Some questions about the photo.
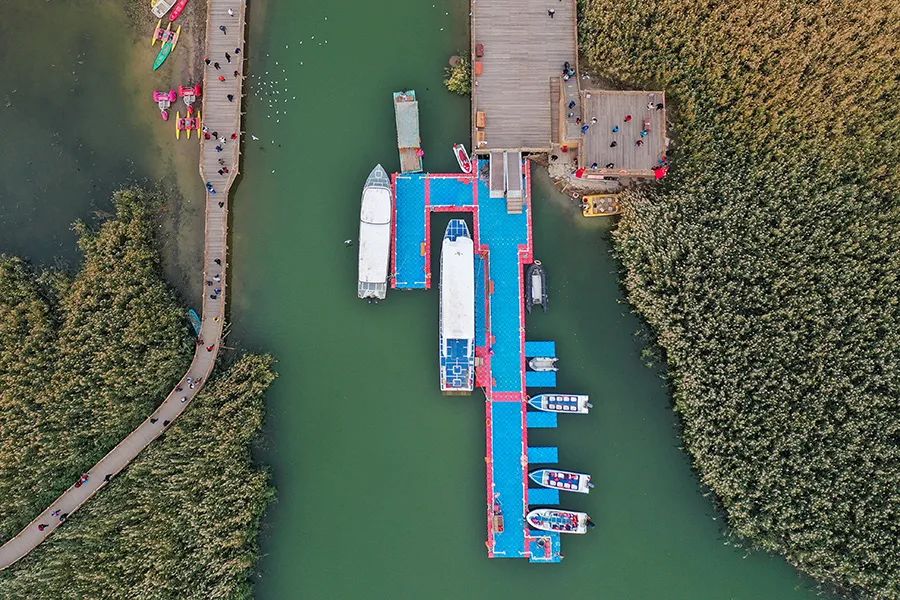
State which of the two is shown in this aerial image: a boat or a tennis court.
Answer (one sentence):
The image shows a boat.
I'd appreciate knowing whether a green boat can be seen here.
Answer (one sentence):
Yes, a green boat appears in the view.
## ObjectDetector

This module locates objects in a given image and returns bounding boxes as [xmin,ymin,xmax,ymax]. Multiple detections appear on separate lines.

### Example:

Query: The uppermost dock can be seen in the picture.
[472,0,582,152]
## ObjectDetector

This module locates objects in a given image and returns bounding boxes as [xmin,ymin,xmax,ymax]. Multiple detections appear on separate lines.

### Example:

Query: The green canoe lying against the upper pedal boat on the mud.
[153,43,171,70]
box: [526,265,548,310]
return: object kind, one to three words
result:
boat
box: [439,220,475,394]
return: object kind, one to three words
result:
boat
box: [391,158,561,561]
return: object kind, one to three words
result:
pier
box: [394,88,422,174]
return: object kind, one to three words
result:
vessel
